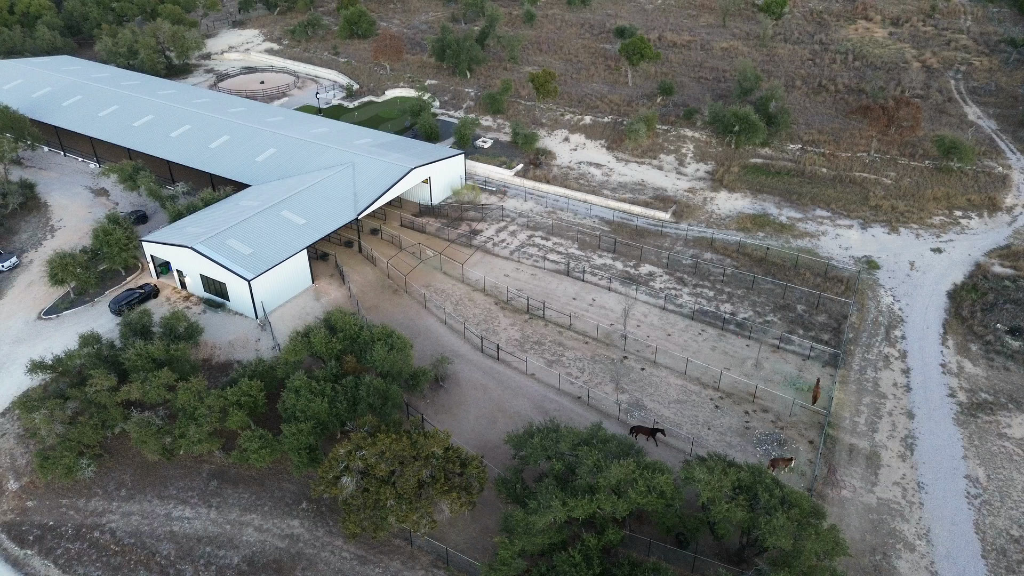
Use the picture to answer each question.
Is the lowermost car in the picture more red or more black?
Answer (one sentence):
The color of the lowermost car is black.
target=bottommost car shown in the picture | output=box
[109,280,166,310]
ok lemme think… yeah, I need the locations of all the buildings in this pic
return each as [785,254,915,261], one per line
[0,55,467,327]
